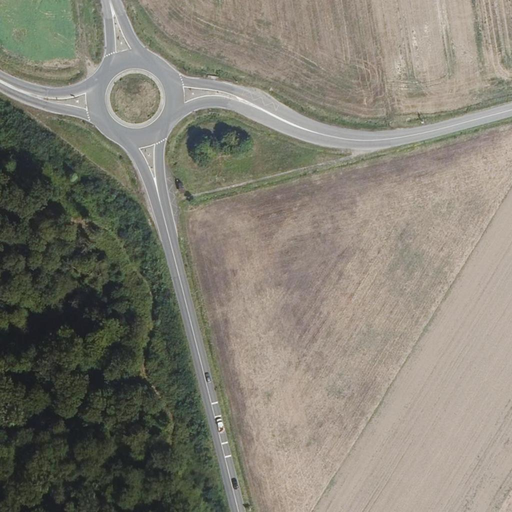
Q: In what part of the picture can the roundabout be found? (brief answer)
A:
top left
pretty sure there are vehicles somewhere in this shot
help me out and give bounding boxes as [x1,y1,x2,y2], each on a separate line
[232,478,238,490]
[216,419,224,432]
[205,372,211,382]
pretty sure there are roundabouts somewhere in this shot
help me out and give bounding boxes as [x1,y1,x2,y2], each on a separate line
[84,42,186,149]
